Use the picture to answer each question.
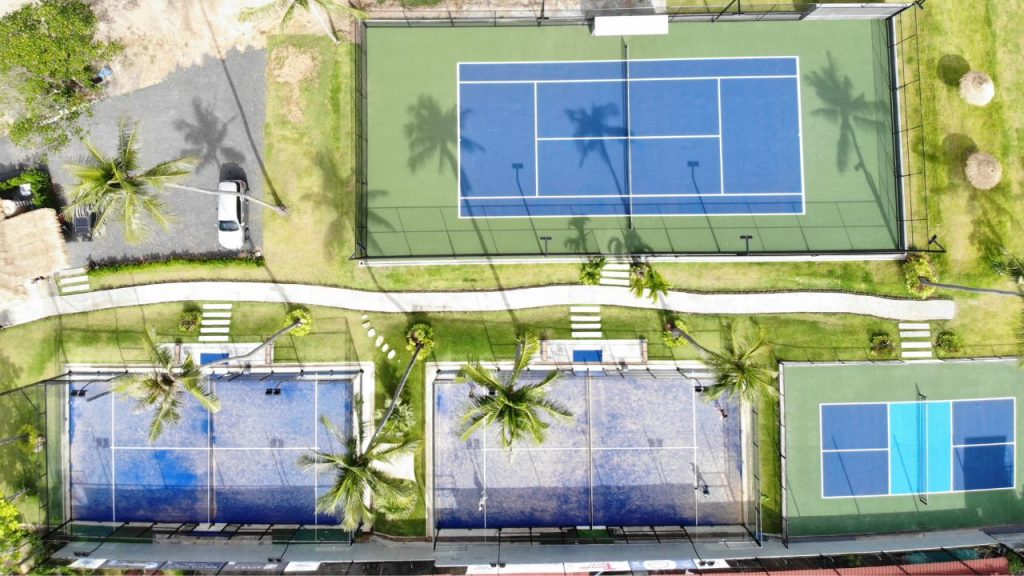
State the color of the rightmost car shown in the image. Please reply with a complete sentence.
The rightmost car looks white in the image.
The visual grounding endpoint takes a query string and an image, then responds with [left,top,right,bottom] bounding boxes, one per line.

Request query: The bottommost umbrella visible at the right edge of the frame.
[965,152,1003,190]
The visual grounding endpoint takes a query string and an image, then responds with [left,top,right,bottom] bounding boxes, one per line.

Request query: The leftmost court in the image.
[61,362,375,531]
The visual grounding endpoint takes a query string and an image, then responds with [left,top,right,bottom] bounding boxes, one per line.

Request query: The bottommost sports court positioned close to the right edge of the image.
[782,357,1024,538]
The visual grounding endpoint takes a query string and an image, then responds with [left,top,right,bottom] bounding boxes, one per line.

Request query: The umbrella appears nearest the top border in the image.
[957,70,995,107]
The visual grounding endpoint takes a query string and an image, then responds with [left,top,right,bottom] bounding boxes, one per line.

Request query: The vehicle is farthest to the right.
[215,181,251,250]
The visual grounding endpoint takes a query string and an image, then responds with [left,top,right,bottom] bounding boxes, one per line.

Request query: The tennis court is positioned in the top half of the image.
[365,17,899,256]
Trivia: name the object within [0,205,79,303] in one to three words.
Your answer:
shed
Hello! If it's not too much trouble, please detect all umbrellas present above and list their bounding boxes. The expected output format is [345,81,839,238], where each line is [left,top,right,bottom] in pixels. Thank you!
[965,152,1003,190]
[957,70,995,107]
[0,197,26,217]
